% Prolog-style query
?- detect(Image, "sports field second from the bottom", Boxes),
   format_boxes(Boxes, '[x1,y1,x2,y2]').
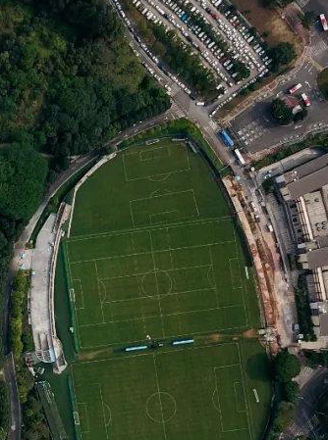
[66,216,249,349]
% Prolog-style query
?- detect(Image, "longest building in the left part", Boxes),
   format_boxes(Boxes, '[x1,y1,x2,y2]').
[25,203,72,374]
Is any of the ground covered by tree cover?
Yes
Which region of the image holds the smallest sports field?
center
